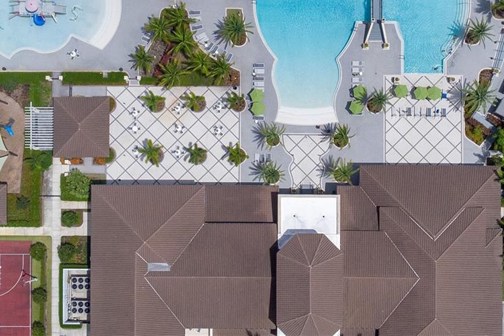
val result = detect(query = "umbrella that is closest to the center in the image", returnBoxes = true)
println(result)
[251,103,265,116]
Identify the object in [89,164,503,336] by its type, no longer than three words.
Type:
building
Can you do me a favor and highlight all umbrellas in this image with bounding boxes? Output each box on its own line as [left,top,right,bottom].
[426,87,440,100]
[251,103,265,116]
[352,85,365,99]
[251,89,265,102]
[414,86,427,100]
[350,102,363,114]
[394,85,407,98]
